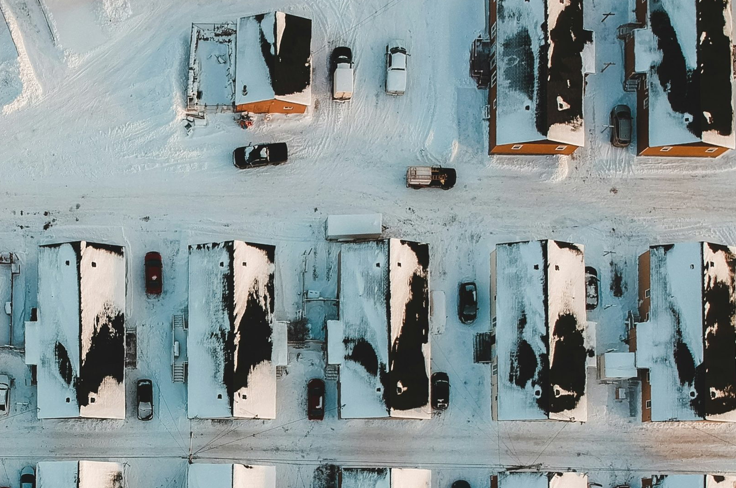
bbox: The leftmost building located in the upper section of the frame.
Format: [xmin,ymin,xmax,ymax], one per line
[236,10,313,115]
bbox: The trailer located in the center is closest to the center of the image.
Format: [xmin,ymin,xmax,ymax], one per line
[324,214,384,243]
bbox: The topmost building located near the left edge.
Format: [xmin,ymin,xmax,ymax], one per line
[25,239,136,419]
